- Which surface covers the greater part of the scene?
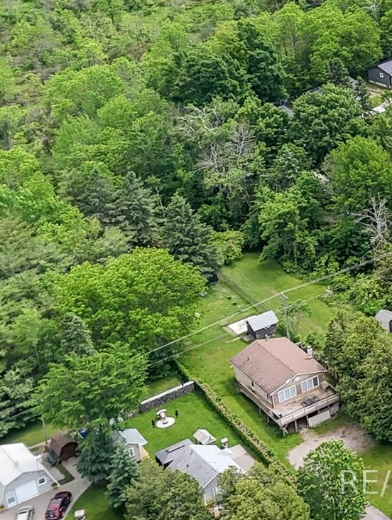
trees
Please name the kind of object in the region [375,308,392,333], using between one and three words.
building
